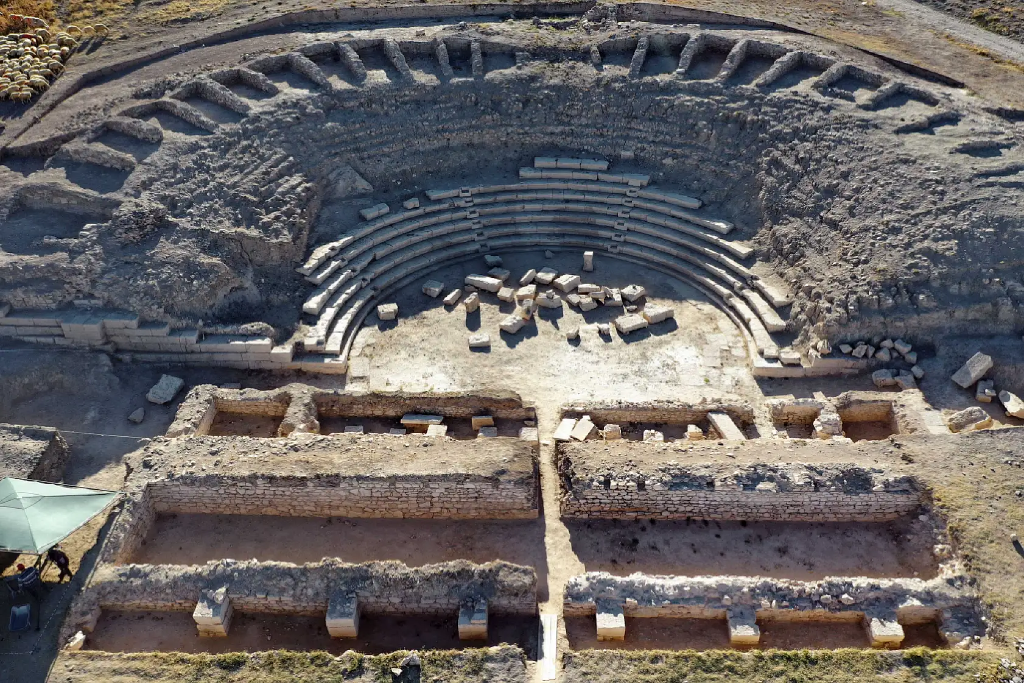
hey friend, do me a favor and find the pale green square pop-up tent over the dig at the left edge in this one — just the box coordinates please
[0,477,122,612]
